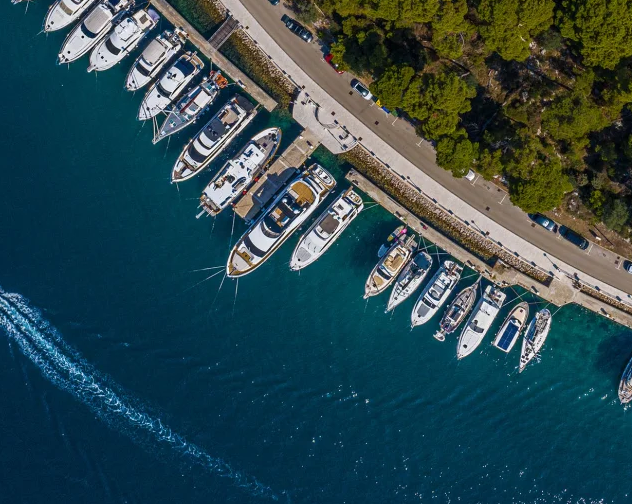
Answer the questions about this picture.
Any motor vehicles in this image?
Yes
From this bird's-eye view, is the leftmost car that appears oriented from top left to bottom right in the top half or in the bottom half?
top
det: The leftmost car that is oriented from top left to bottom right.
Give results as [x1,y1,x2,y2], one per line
[284,16,311,42]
